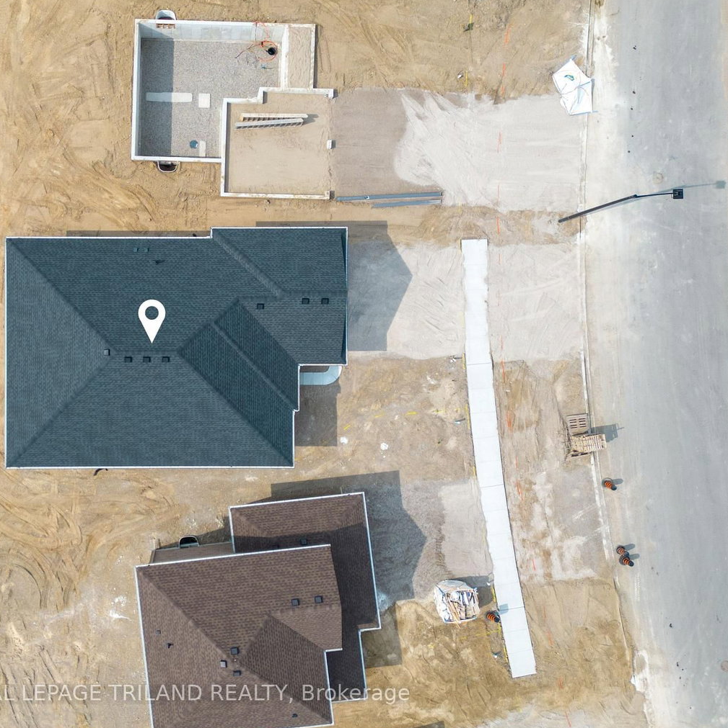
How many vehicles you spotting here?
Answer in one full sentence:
No vehicles are visible.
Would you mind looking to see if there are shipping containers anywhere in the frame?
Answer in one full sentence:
No, no shipping container can be seen from above.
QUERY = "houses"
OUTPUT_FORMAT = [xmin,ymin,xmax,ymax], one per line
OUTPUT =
[134,490,382,728]
[5,225,349,476]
